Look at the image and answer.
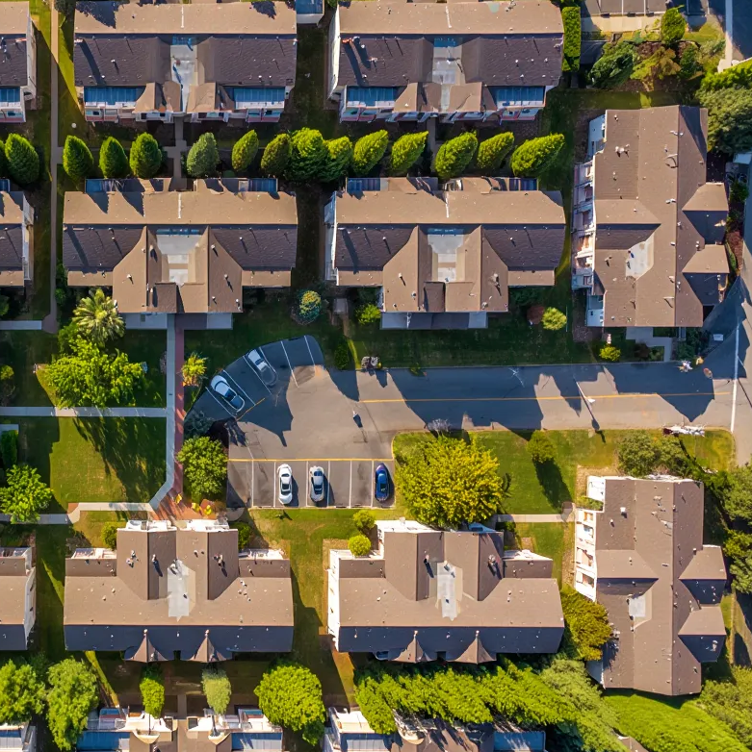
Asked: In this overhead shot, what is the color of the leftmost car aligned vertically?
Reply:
white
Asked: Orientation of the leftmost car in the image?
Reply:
diagonally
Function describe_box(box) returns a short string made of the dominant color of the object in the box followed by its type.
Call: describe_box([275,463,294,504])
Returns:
white car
